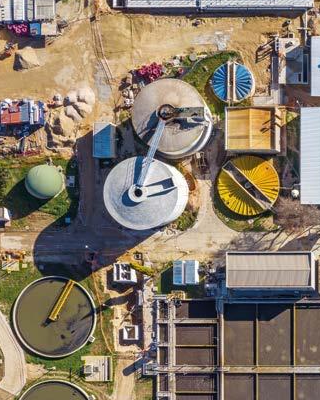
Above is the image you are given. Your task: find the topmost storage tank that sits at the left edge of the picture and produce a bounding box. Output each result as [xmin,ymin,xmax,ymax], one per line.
[12,275,97,358]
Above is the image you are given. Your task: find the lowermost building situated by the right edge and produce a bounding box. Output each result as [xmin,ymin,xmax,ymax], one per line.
[225,250,316,289]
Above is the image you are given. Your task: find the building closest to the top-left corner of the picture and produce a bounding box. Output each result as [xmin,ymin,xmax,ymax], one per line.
[93,122,117,158]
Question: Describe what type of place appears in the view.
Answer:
industrial area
